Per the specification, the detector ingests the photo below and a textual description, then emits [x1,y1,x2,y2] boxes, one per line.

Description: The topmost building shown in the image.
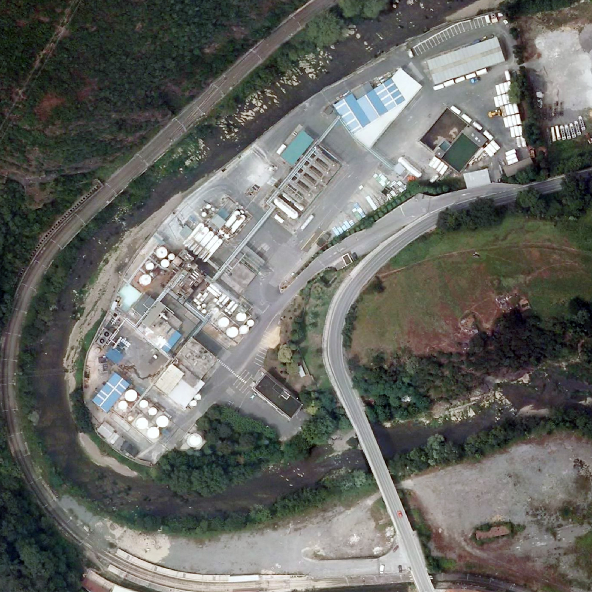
[427,36,504,86]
